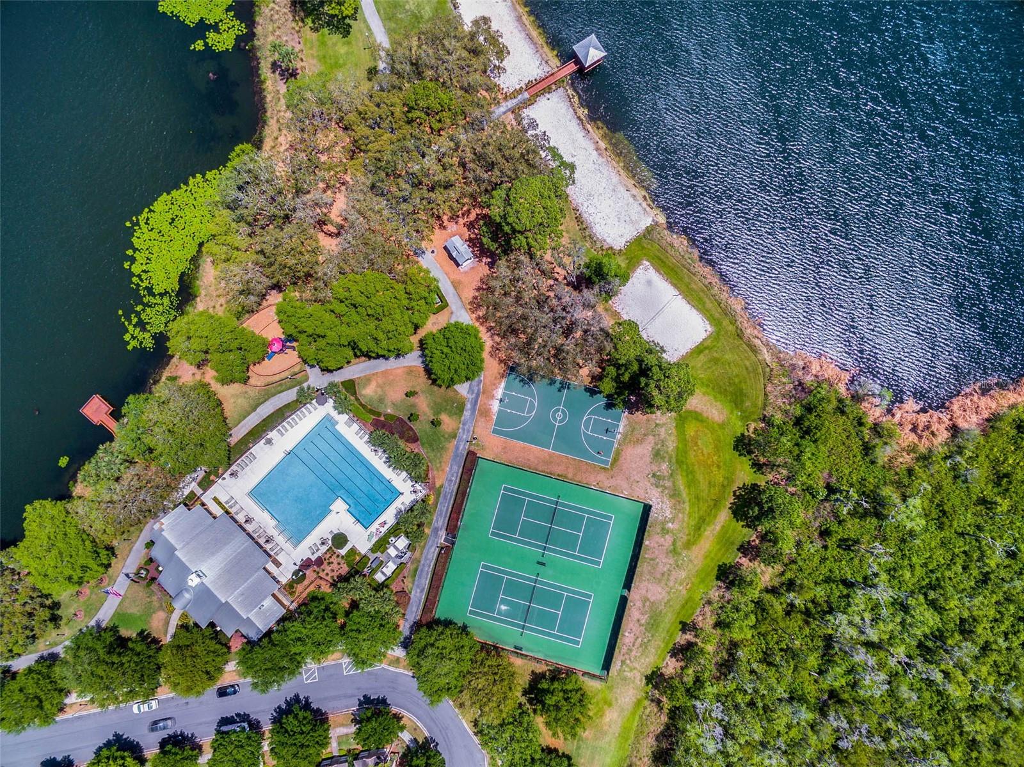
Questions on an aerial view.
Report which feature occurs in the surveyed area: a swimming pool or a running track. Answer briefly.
swimming pool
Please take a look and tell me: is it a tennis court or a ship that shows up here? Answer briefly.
tennis court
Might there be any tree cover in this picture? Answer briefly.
Yes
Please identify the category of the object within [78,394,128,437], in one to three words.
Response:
pier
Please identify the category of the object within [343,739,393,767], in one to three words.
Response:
house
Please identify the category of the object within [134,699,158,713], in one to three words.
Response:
car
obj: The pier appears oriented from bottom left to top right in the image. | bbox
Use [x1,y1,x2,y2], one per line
[526,35,606,96]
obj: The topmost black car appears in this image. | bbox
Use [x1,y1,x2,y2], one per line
[218,683,240,698]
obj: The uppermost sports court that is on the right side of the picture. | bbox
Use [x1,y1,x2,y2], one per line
[614,265,709,359]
